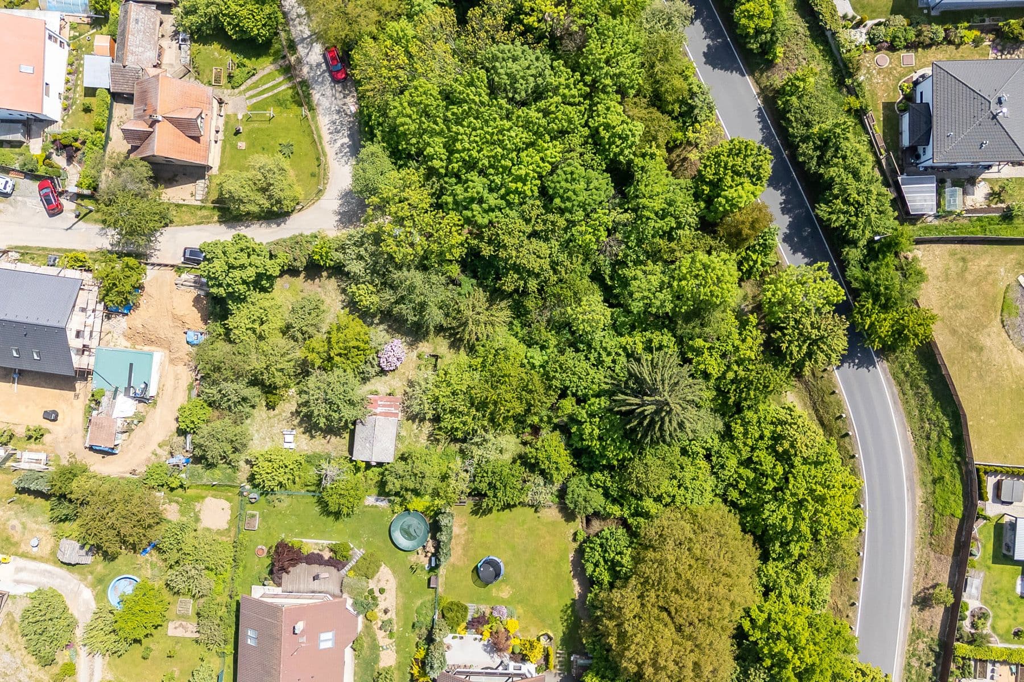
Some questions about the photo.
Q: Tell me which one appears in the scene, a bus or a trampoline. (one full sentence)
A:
The image shows a trampoline.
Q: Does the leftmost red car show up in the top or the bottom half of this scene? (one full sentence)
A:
You can find the leftmost red car in the top half.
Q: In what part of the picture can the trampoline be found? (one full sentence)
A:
The trampoline is located in the bottom region of the scene.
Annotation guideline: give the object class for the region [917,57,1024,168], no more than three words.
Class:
house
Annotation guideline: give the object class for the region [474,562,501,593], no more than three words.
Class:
trampoline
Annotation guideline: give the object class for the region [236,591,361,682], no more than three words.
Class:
house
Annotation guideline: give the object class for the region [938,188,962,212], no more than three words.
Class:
greenhouse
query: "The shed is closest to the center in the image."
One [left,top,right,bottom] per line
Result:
[352,396,403,461]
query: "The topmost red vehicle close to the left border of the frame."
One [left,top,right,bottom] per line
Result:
[35,178,62,216]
